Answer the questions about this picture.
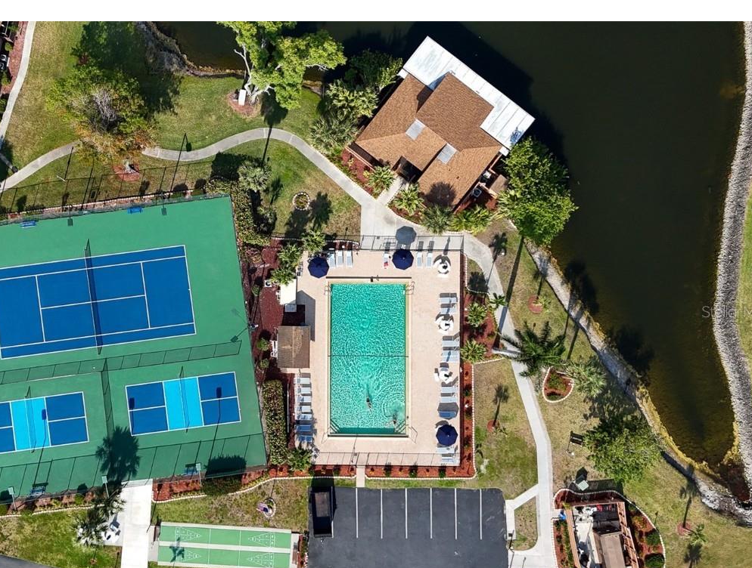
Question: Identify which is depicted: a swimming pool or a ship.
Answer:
swimming pool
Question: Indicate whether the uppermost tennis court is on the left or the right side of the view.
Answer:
left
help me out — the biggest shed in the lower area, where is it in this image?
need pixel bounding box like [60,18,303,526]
[278,326,310,368]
